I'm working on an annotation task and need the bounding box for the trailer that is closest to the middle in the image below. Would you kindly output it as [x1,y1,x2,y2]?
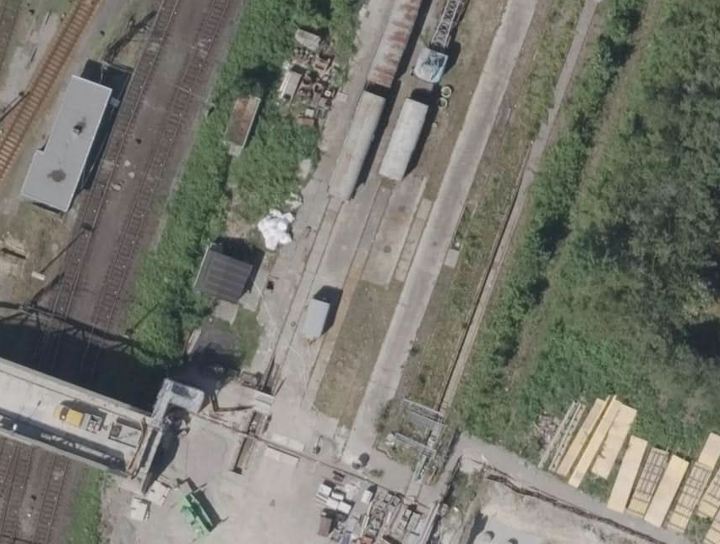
[301,298,328,348]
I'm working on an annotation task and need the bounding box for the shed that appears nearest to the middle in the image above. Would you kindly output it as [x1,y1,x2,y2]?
[194,247,253,300]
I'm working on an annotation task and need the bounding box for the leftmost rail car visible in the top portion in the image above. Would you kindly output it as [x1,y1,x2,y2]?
[326,89,384,203]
